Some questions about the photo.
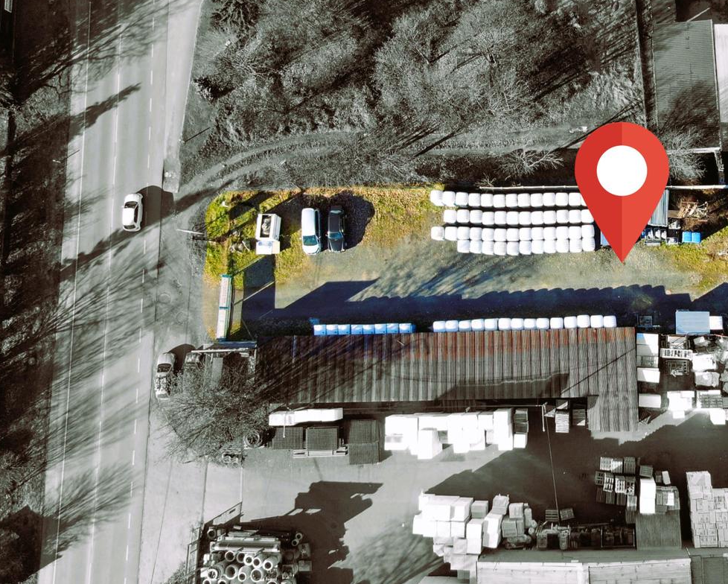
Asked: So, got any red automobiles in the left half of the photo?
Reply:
No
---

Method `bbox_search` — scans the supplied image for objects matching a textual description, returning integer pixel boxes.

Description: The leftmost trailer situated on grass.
[252,216,280,247]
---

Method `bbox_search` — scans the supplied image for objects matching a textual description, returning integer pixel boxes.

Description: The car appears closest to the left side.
[123,193,149,233]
